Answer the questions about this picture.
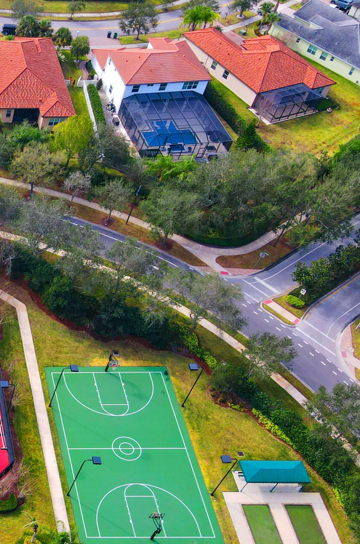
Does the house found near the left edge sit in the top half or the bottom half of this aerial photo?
top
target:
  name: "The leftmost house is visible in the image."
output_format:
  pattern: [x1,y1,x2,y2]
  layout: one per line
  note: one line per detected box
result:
[0,36,76,130]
